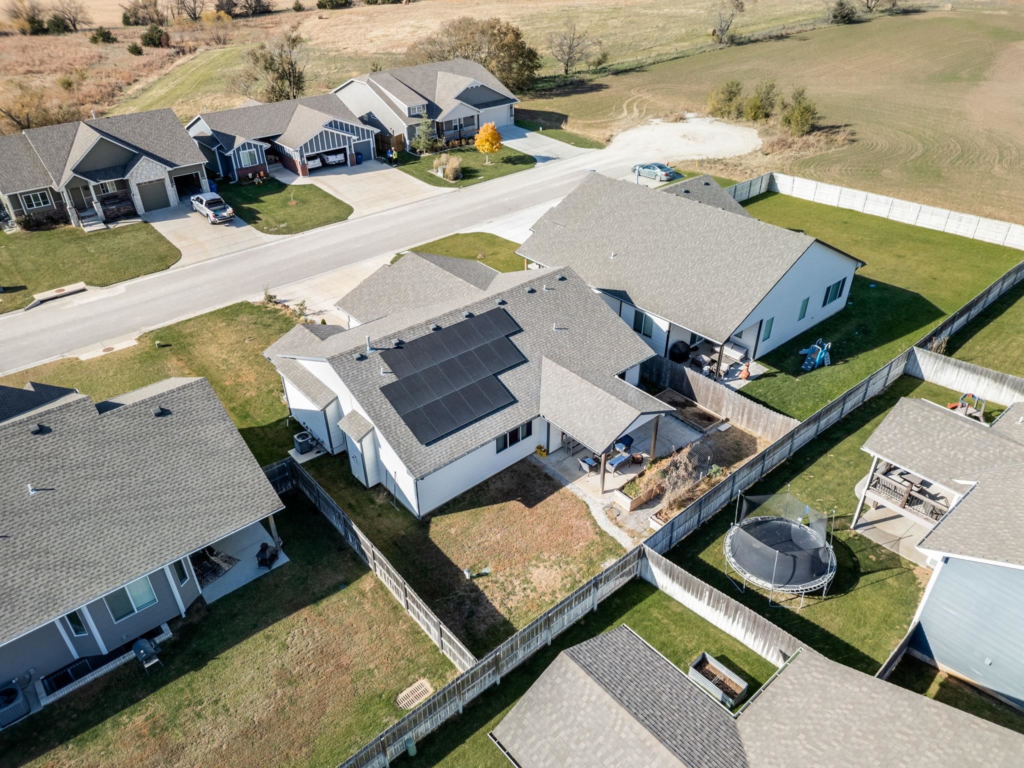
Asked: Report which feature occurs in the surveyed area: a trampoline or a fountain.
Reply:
trampoline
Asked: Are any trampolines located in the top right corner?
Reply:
No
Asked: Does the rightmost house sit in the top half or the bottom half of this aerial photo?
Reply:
bottom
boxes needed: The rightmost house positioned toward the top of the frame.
[509,164,867,378]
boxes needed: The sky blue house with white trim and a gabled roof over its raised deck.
[847,396,1024,705]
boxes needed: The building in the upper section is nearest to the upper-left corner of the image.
[0,106,213,230]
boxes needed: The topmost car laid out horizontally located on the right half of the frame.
[634,163,674,180]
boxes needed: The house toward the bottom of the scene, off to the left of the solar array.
[0,374,288,697]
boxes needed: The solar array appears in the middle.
[380,303,527,444]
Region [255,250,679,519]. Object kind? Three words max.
house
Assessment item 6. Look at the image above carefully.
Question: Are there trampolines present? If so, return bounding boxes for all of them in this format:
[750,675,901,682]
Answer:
[726,487,835,614]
